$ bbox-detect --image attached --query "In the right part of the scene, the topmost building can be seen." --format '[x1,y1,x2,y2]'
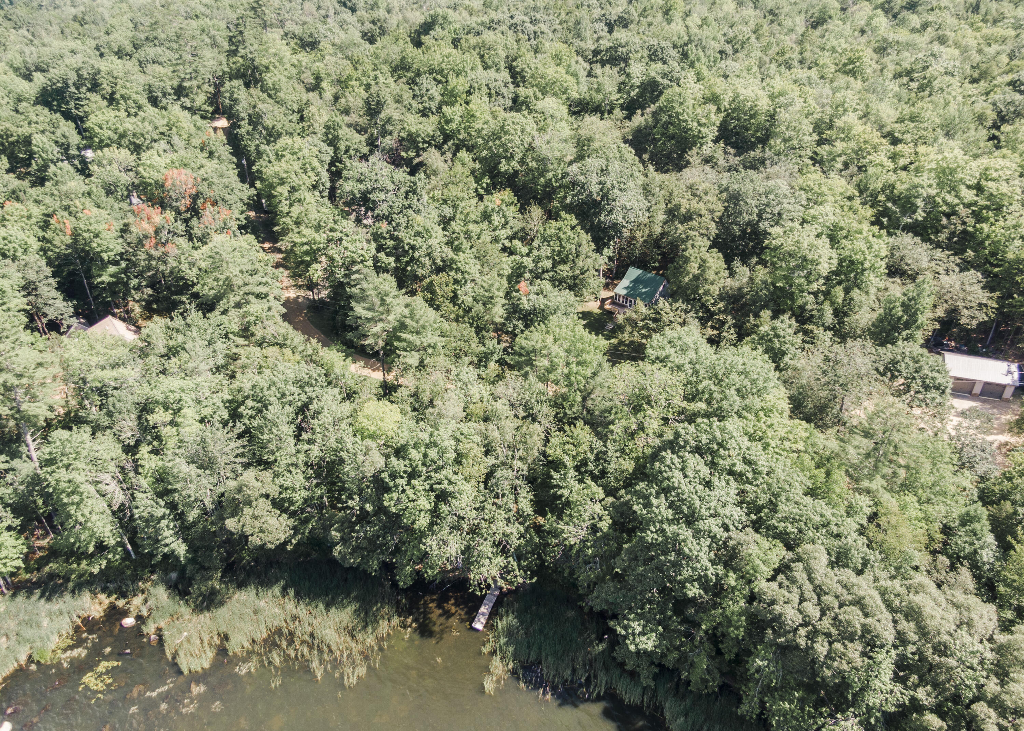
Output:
[603,266,670,325]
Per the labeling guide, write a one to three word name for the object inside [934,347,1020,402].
building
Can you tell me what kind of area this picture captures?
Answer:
forest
